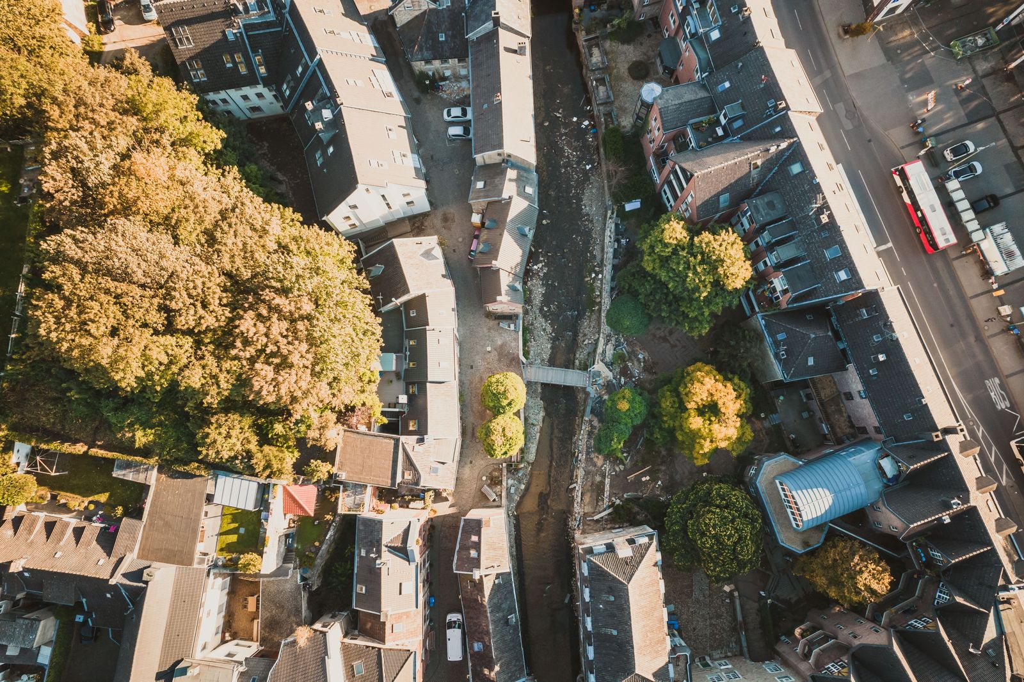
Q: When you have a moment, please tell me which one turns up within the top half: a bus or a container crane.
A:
bus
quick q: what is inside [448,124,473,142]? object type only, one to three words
car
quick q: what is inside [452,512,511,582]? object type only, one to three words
house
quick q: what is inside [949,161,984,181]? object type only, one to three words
car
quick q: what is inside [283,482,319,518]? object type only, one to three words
building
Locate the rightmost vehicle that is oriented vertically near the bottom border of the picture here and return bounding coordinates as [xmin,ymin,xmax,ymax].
[445,612,464,665]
